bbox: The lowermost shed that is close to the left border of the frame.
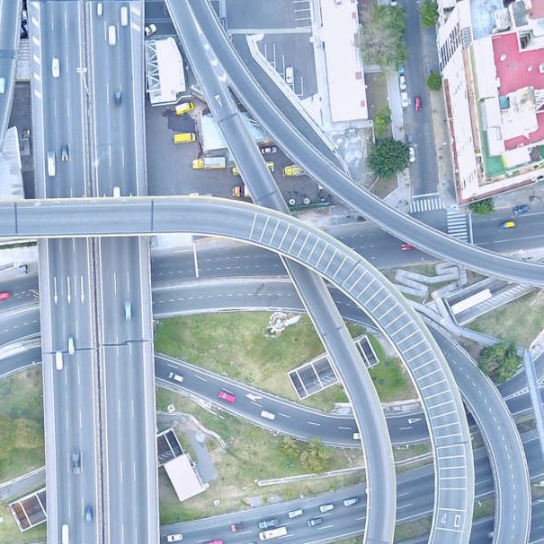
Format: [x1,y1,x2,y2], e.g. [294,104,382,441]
[0,126,26,199]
